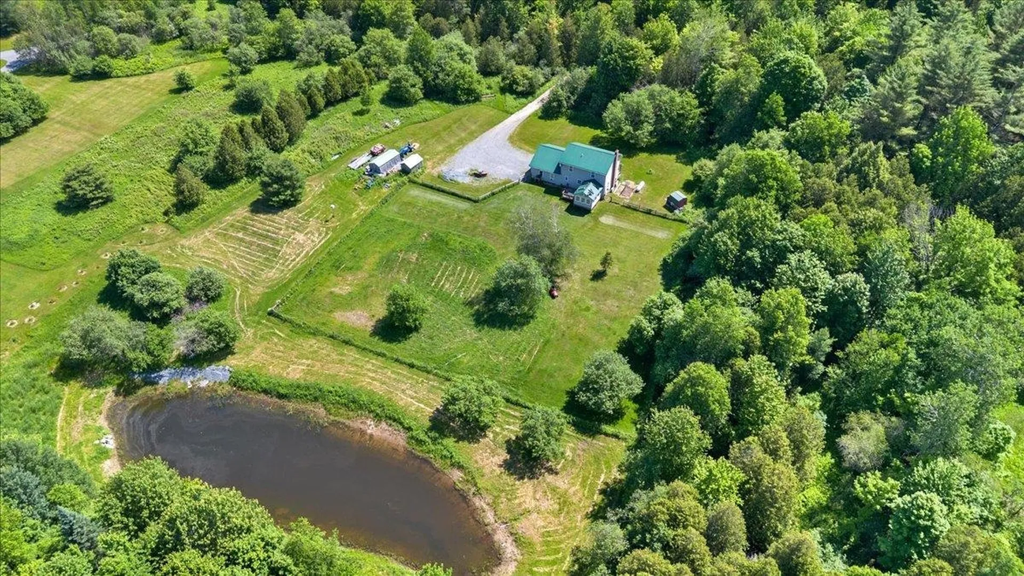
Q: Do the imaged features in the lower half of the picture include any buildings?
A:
No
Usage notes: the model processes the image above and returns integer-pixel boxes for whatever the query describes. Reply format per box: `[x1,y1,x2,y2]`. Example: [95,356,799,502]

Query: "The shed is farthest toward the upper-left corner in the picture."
[370,148,400,174]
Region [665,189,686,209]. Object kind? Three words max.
shed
